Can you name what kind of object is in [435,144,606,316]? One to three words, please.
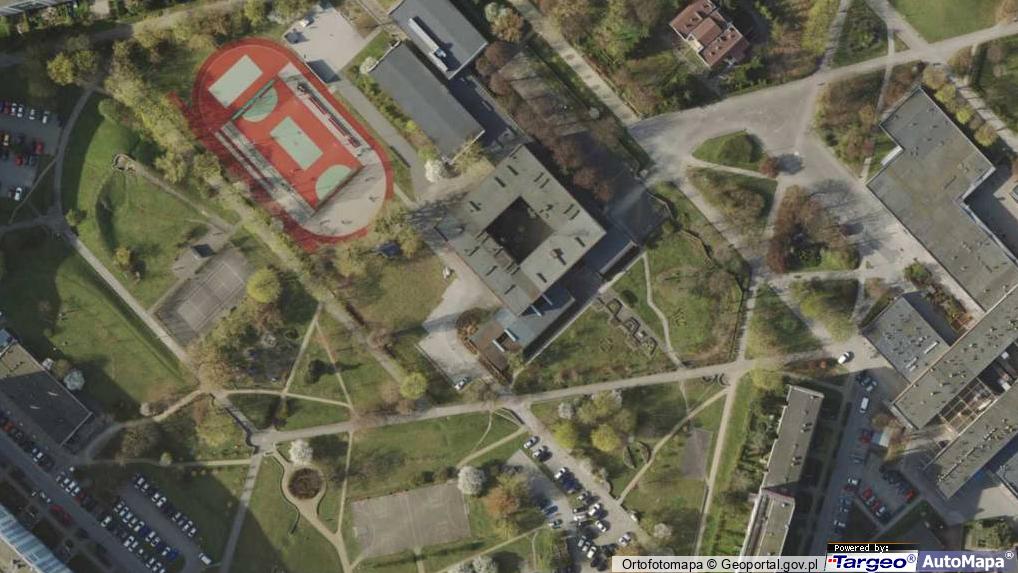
building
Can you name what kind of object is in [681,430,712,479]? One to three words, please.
sports court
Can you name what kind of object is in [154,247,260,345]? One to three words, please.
tennis court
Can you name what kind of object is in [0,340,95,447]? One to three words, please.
building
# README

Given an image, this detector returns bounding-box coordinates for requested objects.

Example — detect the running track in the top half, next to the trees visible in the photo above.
[168,36,395,249]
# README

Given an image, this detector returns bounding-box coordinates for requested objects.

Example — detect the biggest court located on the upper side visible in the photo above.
[215,63,385,236]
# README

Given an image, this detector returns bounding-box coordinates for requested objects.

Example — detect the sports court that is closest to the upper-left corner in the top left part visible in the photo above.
[208,55,262,107]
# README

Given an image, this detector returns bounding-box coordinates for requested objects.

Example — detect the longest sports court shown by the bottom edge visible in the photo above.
[352,482,471,558]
